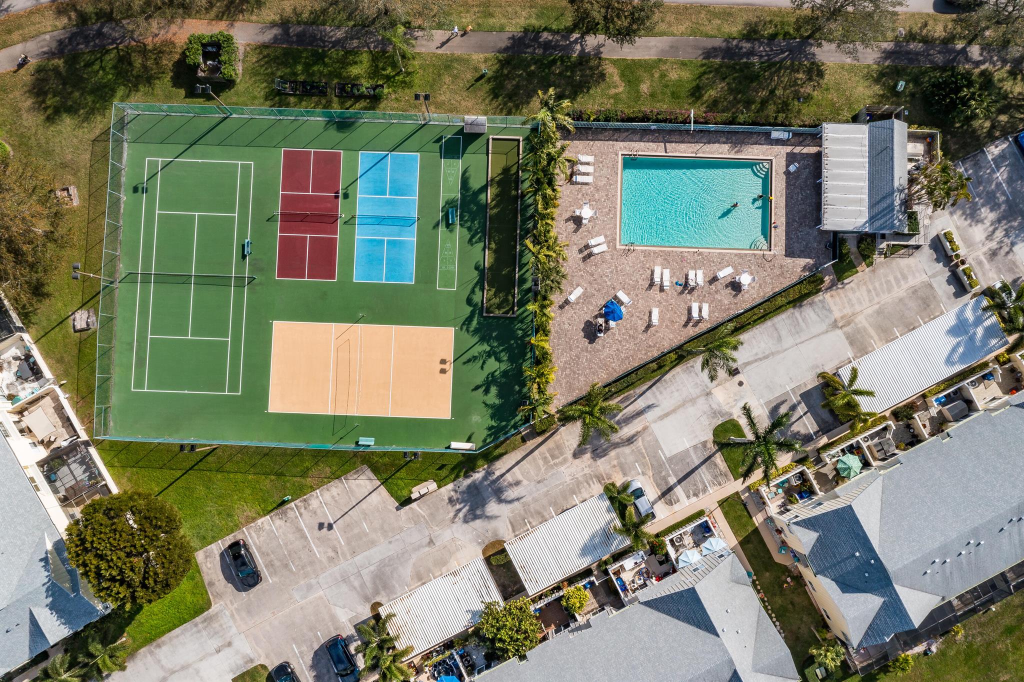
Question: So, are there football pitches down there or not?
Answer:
No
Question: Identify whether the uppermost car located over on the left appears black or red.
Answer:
black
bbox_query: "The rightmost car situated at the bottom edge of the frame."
[322,635,357,682]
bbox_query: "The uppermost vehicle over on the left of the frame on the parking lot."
[225,544,259,589]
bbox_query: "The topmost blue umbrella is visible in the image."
[603,299,625,321]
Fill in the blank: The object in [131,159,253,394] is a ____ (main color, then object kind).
green tennis court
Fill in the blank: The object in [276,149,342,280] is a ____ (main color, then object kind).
red sports court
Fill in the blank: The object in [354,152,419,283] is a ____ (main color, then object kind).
blue sports court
